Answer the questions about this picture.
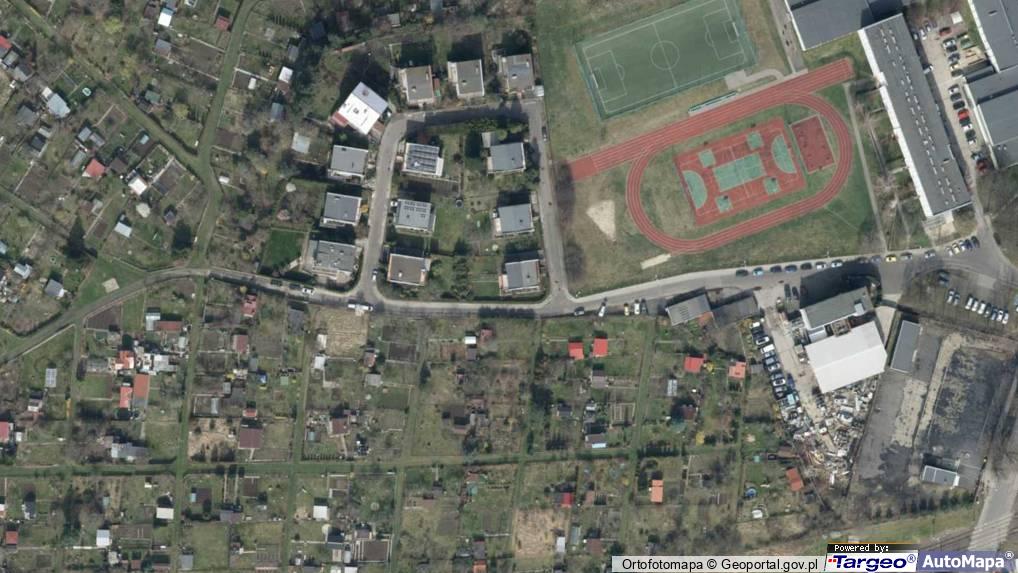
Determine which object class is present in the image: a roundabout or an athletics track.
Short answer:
athletics track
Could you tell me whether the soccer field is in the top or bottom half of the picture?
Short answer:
top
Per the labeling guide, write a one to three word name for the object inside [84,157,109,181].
shed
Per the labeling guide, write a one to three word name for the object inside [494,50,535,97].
house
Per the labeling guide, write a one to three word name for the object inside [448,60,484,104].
house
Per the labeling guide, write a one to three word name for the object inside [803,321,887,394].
building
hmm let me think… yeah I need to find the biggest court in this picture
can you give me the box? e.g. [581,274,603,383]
[675,116,806,225]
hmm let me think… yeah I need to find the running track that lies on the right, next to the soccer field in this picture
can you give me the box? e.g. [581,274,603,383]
[568,58,855,253]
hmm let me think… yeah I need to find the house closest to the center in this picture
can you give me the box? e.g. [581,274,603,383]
[500,260,540,294]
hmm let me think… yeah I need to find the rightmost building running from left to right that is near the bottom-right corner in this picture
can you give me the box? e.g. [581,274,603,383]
[919,466,958,486]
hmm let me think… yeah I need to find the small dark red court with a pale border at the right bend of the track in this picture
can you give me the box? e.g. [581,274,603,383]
[790,114,835,173]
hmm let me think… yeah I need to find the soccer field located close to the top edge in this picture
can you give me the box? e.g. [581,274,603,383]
[575,0,756,119]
